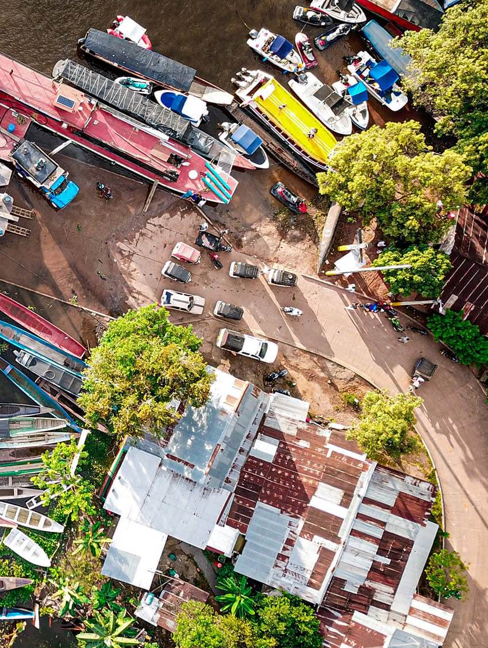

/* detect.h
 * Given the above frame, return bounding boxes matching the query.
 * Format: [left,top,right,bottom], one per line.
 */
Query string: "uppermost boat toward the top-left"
[109,10,152,43]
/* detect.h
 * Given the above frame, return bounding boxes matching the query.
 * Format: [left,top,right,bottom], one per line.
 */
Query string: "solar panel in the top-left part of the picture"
[54,91,78,111]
